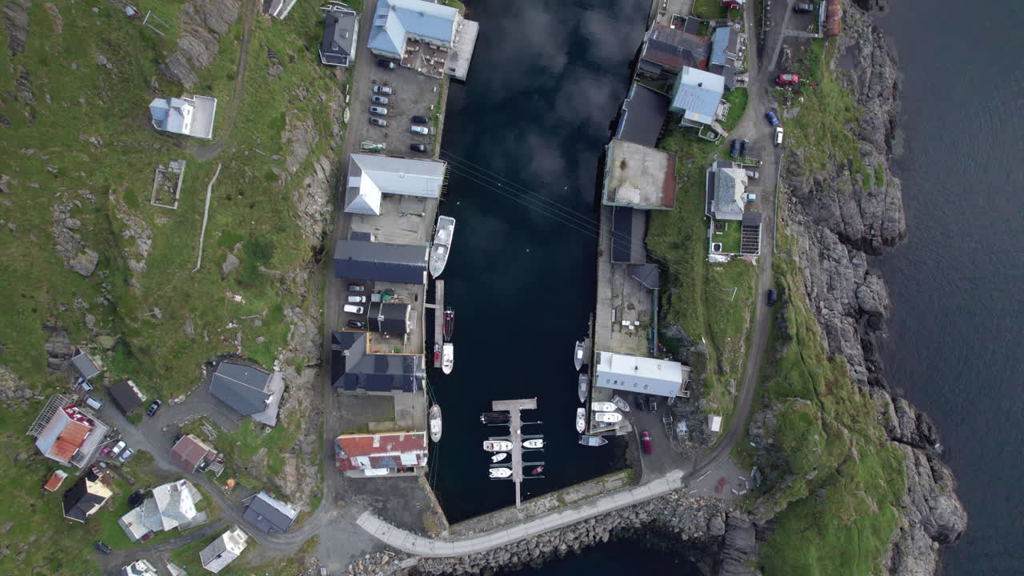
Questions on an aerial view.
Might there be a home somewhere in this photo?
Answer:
Yes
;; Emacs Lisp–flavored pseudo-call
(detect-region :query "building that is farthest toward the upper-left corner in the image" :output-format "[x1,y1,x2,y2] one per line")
[150,98,193,135]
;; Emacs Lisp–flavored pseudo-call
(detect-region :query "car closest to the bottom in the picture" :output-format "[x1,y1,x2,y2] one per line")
[90,541,111,557]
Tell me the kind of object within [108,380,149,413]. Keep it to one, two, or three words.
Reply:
house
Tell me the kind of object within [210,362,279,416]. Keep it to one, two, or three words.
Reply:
barn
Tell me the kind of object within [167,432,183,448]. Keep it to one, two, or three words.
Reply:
car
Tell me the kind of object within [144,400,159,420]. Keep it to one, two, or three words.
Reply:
car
